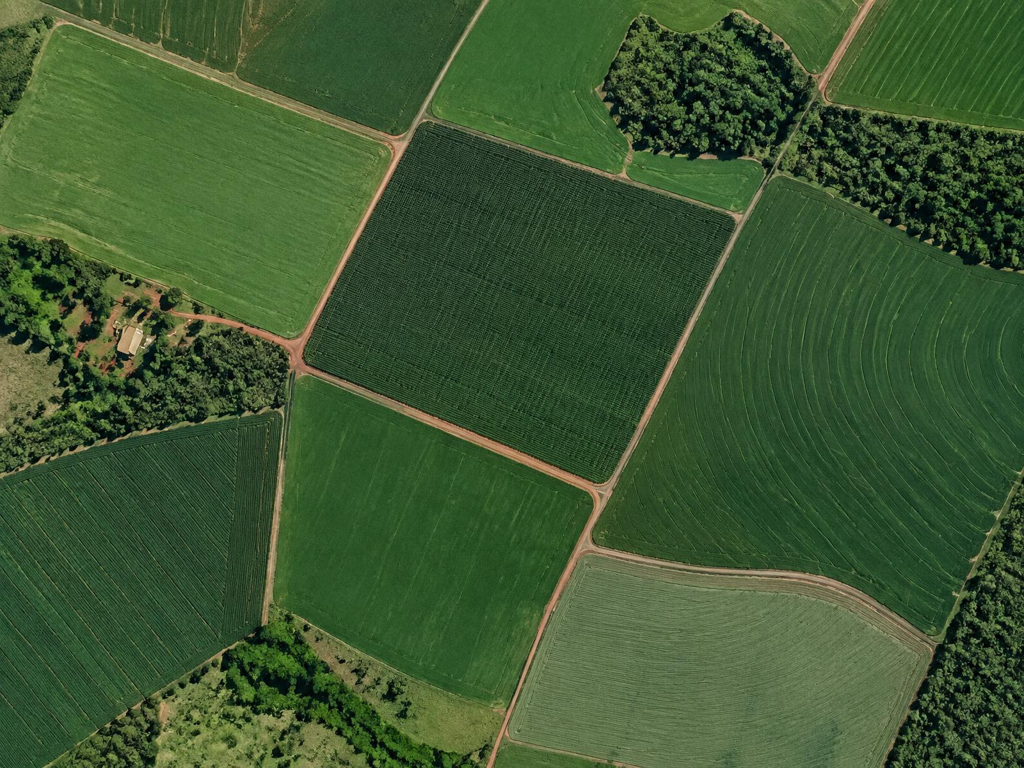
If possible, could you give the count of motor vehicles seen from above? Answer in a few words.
zero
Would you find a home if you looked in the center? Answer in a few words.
No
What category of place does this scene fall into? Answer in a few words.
farmland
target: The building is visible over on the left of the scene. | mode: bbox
[116,325,142,355]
